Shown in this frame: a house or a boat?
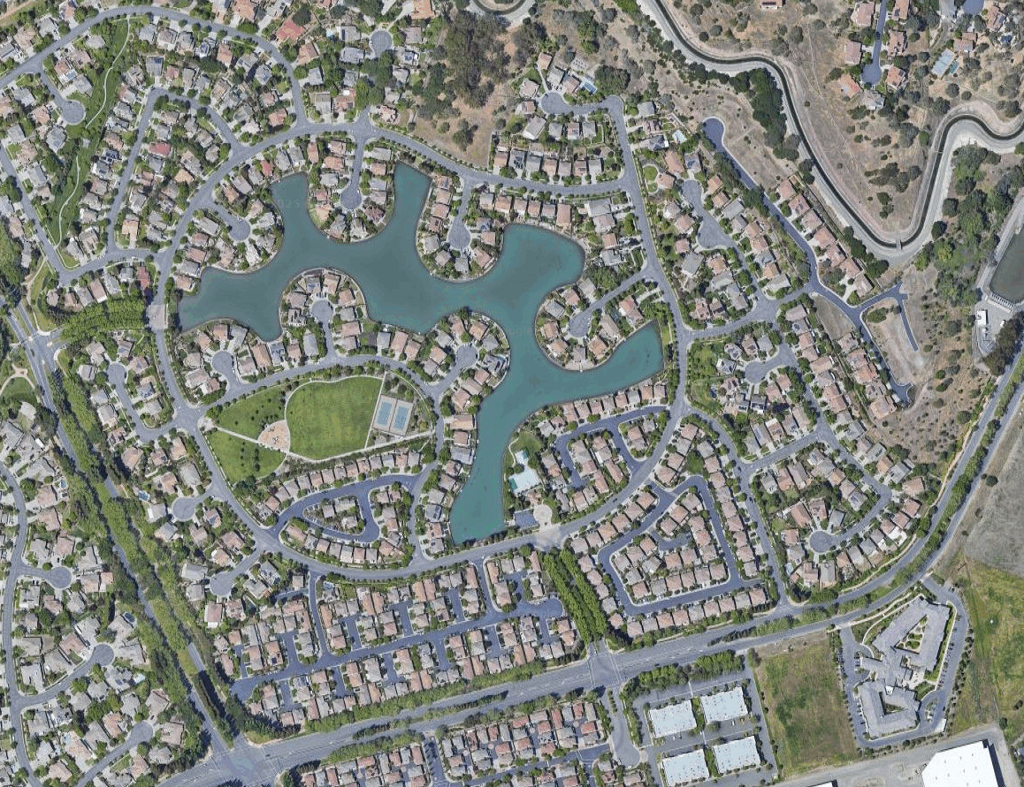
house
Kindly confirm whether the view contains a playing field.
Yes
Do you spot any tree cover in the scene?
Yes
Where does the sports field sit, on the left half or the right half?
left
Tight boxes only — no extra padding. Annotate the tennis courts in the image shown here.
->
[932,48,956,77]
[373,396,397,431]
[389,401,413,436]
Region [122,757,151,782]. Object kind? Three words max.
house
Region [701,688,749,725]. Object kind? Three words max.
building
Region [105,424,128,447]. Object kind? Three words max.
house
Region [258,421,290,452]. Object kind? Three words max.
playground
